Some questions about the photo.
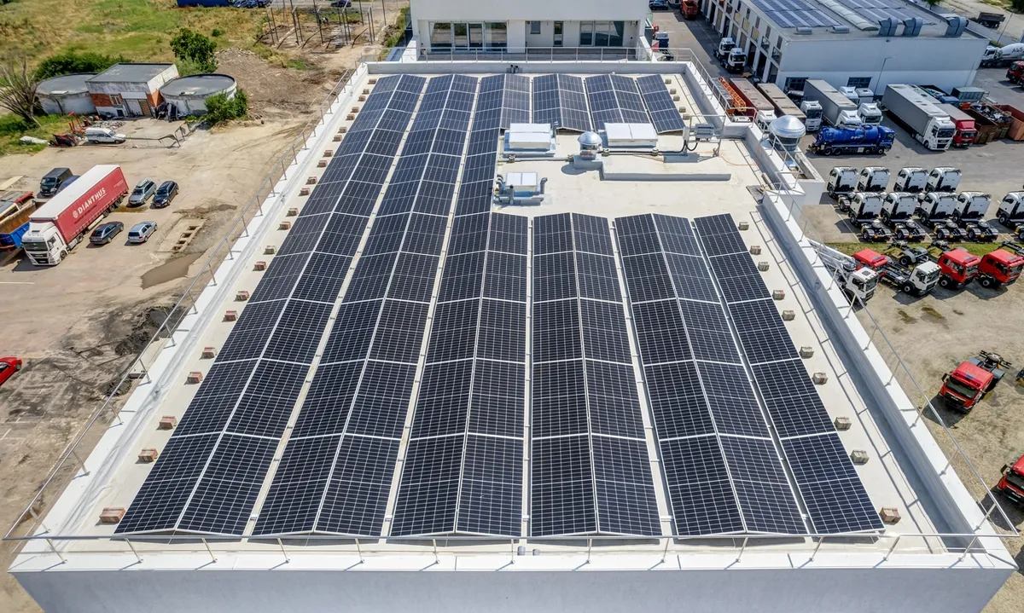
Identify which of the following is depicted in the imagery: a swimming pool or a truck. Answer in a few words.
truck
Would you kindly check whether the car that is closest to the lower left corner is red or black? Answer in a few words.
red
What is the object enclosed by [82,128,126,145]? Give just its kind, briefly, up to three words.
car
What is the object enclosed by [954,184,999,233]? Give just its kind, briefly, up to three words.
truck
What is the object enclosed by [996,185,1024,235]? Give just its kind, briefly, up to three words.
truck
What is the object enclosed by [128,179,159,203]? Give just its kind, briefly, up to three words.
car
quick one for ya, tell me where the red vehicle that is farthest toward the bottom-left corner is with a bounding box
[0,354,27,388]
